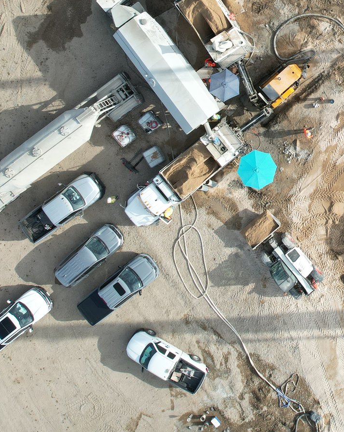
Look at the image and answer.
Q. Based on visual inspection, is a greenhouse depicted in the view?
No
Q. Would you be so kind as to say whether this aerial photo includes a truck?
Yes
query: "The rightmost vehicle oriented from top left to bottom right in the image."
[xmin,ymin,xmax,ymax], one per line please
[242,210,323,300]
